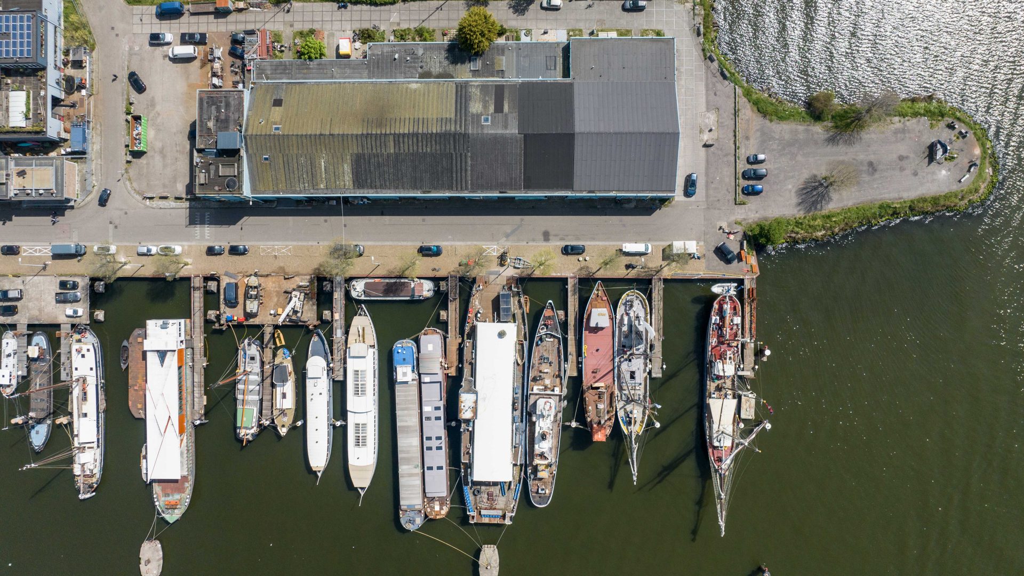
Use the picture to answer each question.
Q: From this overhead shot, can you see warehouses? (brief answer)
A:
Yes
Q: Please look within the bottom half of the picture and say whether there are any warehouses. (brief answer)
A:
No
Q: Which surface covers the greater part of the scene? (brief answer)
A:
water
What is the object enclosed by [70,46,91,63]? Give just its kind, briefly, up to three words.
shed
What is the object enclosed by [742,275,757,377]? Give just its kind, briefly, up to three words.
pier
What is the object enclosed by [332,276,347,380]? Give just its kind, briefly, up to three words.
pier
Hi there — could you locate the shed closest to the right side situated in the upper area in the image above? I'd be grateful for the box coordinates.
[927,139,962,169]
